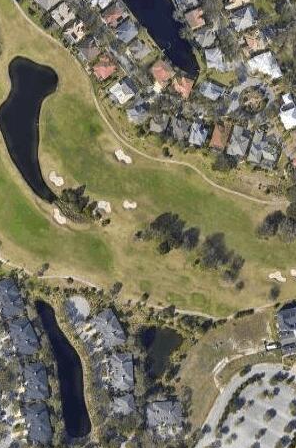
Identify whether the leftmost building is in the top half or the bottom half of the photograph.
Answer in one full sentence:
The leftmost building sits in the bottom half of the picture.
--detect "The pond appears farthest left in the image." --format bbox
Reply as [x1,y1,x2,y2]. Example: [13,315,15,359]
[0,57,57,202]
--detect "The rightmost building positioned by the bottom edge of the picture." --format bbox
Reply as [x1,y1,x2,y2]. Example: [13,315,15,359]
[147,400,184,431]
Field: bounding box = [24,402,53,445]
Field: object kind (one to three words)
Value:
building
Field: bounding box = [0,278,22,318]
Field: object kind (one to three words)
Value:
building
